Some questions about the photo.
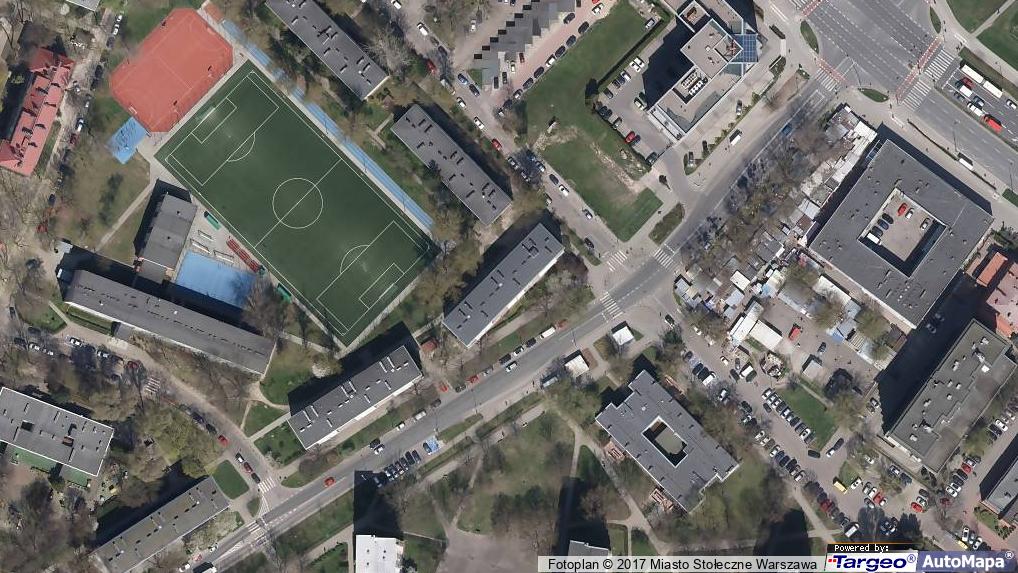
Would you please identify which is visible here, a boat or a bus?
bus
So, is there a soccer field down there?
Yes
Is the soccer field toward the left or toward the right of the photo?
left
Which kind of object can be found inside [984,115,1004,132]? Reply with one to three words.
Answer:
vehicle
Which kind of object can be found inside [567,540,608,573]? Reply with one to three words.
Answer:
building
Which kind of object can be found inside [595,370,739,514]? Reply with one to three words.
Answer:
house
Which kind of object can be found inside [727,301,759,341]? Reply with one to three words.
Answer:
building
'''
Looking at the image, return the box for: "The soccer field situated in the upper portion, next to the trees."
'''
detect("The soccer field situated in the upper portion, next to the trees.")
[154,60,441,346]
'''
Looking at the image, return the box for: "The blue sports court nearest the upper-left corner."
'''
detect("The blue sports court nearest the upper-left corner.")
[110,116,149,163]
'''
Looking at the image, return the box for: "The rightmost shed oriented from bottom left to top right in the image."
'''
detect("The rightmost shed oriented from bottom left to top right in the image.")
[976,252,1008,287]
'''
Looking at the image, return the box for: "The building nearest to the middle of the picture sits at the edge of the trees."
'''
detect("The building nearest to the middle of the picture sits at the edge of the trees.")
[441,223,565,350]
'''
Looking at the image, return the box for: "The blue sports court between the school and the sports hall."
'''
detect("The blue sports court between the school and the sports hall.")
[172,250,256,309]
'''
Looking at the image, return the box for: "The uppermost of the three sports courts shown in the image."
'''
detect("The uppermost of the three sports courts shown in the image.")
[110,8,234,132]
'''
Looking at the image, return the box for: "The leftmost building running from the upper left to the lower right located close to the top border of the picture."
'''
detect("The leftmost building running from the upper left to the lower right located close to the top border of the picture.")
[265,0,389,104]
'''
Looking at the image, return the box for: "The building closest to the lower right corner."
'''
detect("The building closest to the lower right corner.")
[985,459,1018,530]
